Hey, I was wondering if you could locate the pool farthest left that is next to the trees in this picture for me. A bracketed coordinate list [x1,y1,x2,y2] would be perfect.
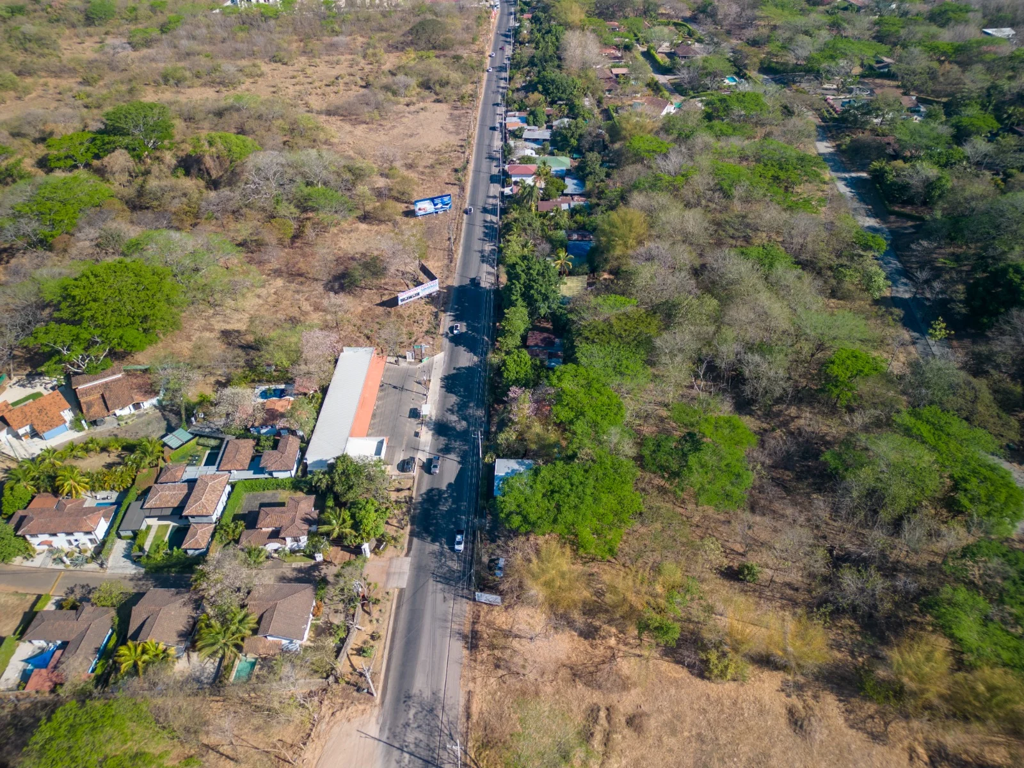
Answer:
[18,666,38,688]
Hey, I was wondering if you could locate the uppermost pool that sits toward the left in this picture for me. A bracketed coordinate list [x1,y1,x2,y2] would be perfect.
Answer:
[254,386,289,402]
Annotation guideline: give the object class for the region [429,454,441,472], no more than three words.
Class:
vehicle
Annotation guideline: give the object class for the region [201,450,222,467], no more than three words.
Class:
swimming pool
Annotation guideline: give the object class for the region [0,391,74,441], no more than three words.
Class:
house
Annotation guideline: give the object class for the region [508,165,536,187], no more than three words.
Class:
house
